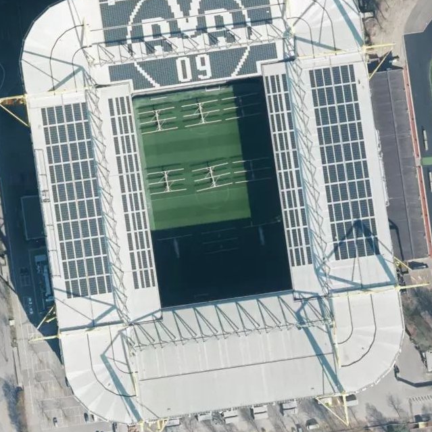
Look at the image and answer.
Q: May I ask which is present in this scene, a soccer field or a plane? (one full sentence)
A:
The one in the frame is a soccer field.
